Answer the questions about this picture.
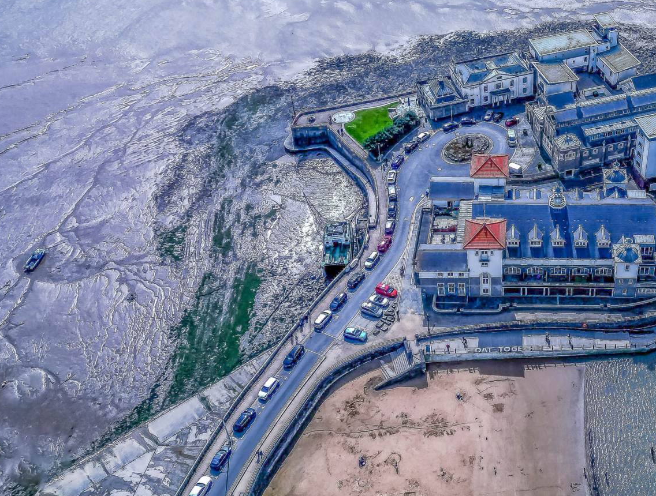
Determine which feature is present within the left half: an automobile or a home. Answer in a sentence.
It is an automobile that can be seen within the left half.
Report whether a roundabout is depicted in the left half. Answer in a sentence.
No, I see no roundabout in the left half.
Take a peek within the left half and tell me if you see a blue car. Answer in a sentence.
Yes, a blue car shows up within the left half.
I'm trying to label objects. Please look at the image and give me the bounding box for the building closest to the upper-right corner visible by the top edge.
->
[528,11,642,89]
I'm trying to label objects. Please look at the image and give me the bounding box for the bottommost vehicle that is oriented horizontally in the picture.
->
[341,327,369,342]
